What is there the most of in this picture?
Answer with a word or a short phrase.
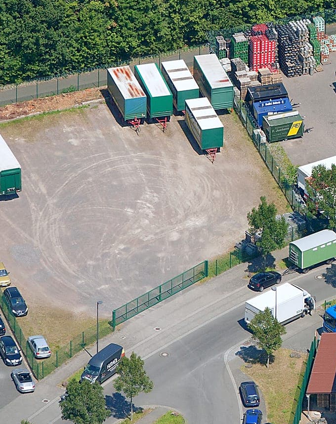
paved ground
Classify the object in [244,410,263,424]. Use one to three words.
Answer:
vehicle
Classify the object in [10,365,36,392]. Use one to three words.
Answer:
car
